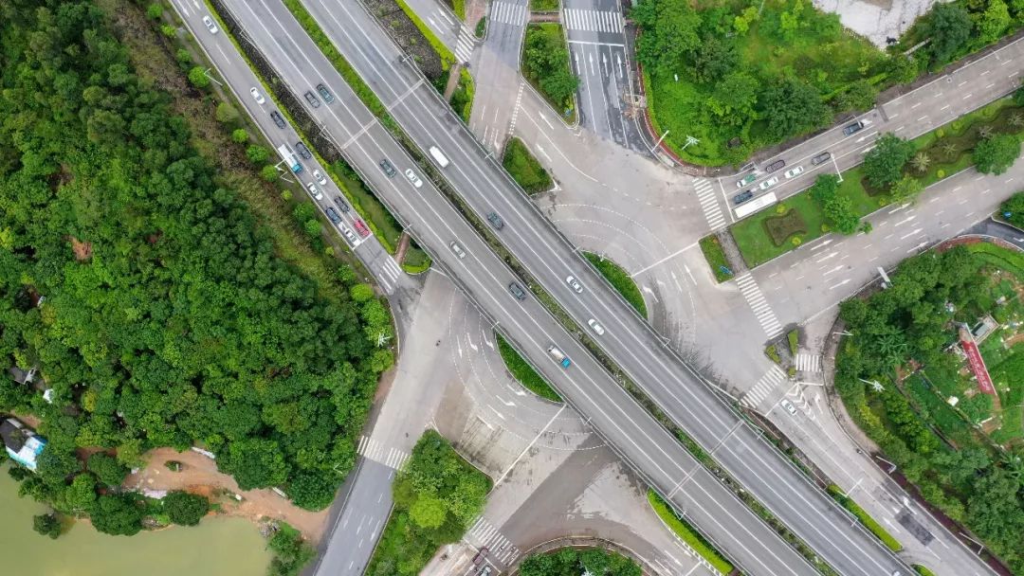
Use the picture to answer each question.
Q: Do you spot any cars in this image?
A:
Yes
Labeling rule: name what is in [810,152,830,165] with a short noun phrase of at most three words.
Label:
vehicle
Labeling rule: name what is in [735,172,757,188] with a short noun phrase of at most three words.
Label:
vehicle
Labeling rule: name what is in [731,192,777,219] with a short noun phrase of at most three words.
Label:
bus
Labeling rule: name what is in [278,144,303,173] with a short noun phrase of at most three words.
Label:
truck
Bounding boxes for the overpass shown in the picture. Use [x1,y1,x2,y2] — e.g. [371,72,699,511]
[214,0,921,576]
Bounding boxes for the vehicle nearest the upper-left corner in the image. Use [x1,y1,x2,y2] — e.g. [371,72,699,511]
[202,15,219,34]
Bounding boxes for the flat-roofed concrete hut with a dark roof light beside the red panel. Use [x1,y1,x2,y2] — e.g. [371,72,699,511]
[971,314,1001,345]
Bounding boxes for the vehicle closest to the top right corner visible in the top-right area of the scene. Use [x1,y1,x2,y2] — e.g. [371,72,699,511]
[841,120,864,136]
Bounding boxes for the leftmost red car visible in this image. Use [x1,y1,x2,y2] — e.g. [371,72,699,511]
[354,218,370,236]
